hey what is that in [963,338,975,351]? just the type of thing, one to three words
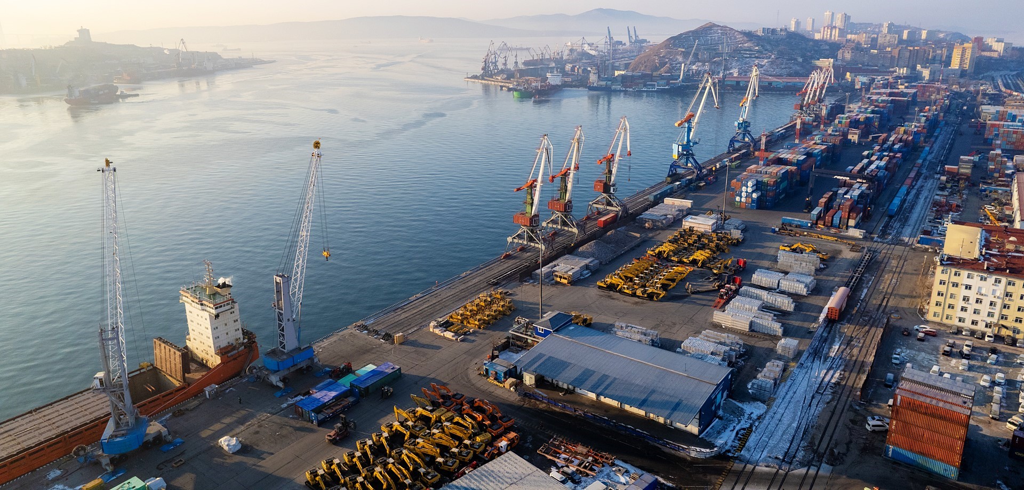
vehicle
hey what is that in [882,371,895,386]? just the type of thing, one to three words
vehicle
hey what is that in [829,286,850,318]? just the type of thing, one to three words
rail car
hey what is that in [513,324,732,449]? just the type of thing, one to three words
warehouse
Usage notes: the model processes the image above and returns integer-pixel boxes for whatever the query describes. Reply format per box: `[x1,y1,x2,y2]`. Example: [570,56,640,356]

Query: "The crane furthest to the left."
[65,162,175,474]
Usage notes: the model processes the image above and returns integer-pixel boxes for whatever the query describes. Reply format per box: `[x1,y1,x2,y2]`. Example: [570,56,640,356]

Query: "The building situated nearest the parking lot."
[927,251,1024,340]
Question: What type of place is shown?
port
